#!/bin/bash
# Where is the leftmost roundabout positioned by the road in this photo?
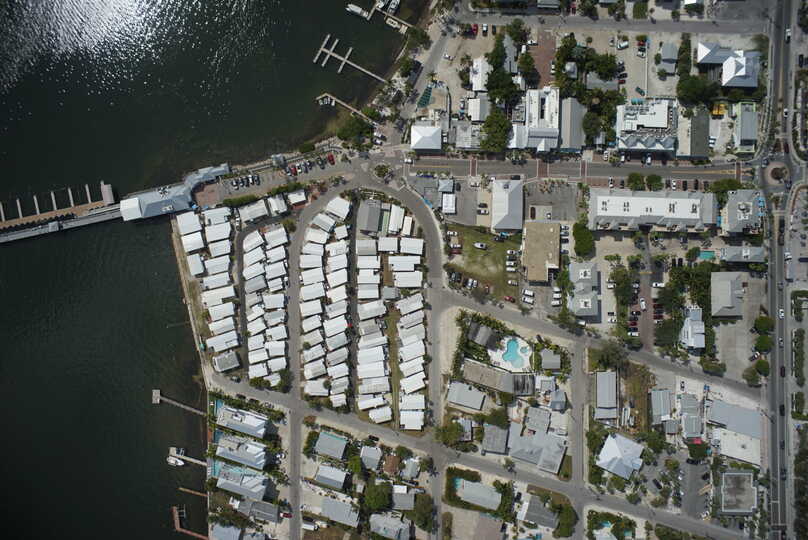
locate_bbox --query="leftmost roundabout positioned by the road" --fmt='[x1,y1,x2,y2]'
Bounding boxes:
[361,150,403,192]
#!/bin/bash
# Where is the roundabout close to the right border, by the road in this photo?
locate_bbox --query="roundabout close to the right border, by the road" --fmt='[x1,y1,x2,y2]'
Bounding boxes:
[756,151,800,194]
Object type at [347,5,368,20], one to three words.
boat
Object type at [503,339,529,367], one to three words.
swimming pool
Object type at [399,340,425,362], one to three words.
house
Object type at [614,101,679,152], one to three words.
building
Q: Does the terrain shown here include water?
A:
Yes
